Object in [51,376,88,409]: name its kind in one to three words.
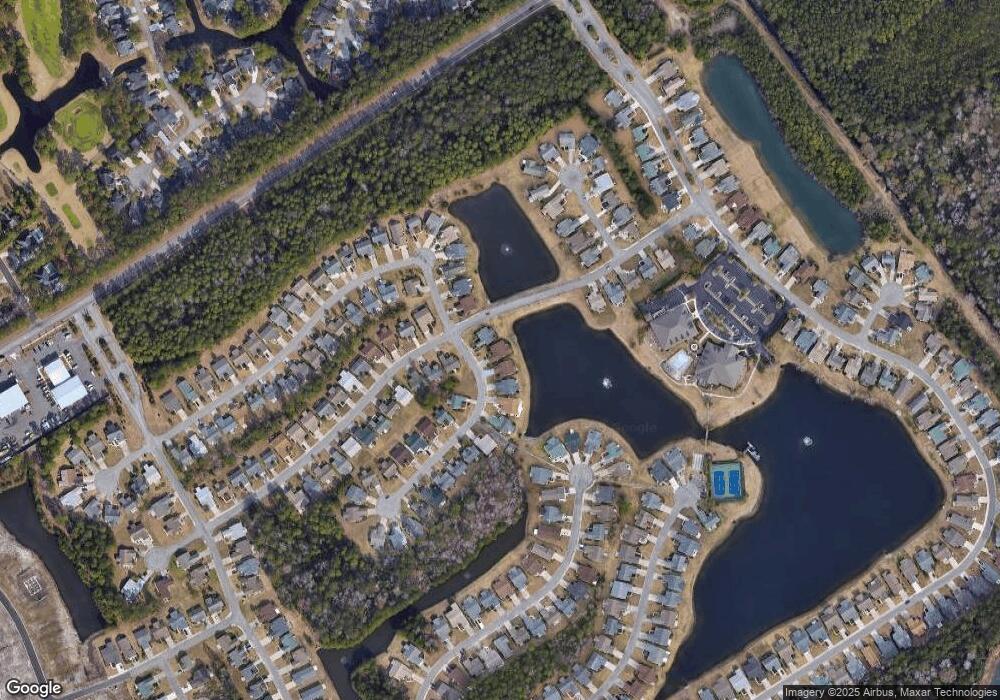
building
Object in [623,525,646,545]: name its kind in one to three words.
house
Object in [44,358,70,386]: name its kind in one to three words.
building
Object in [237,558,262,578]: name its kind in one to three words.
house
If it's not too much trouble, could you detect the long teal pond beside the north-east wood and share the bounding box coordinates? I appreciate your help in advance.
[705,55,861,254]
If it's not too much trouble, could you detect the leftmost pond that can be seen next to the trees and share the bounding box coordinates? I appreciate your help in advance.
[0,55,102,172]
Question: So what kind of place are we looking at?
residential area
